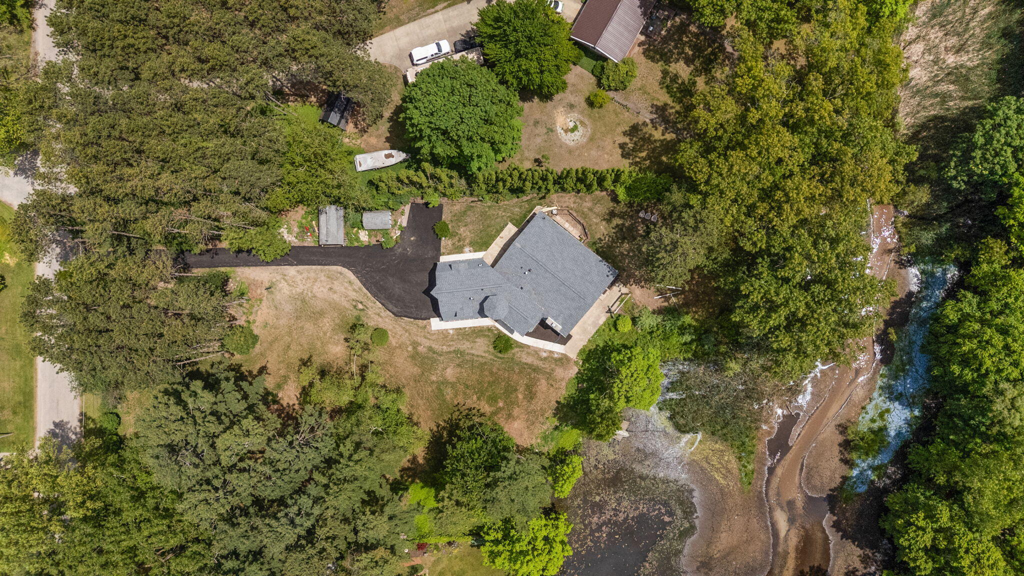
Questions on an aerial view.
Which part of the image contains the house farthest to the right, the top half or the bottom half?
top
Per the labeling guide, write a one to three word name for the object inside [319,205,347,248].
shed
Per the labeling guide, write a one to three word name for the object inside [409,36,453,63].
truck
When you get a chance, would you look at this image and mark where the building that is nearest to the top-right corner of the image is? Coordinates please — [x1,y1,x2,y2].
[570,0,657,64]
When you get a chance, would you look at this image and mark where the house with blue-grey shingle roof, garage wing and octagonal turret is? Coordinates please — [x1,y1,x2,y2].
[433,210,619,339]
